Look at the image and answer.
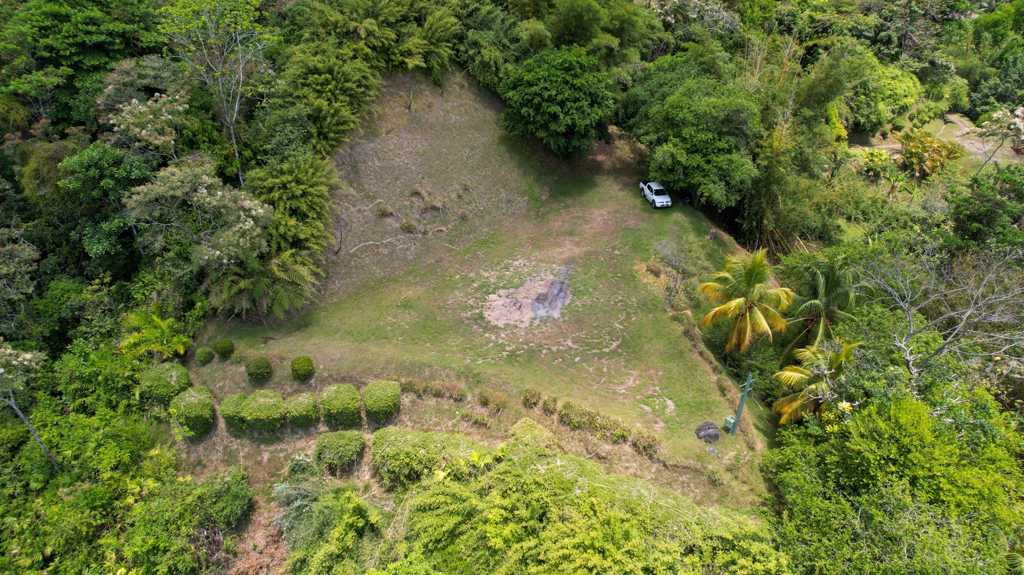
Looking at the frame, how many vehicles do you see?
1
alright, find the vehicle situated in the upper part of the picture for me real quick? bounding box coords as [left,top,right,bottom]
[638,181,673,209]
